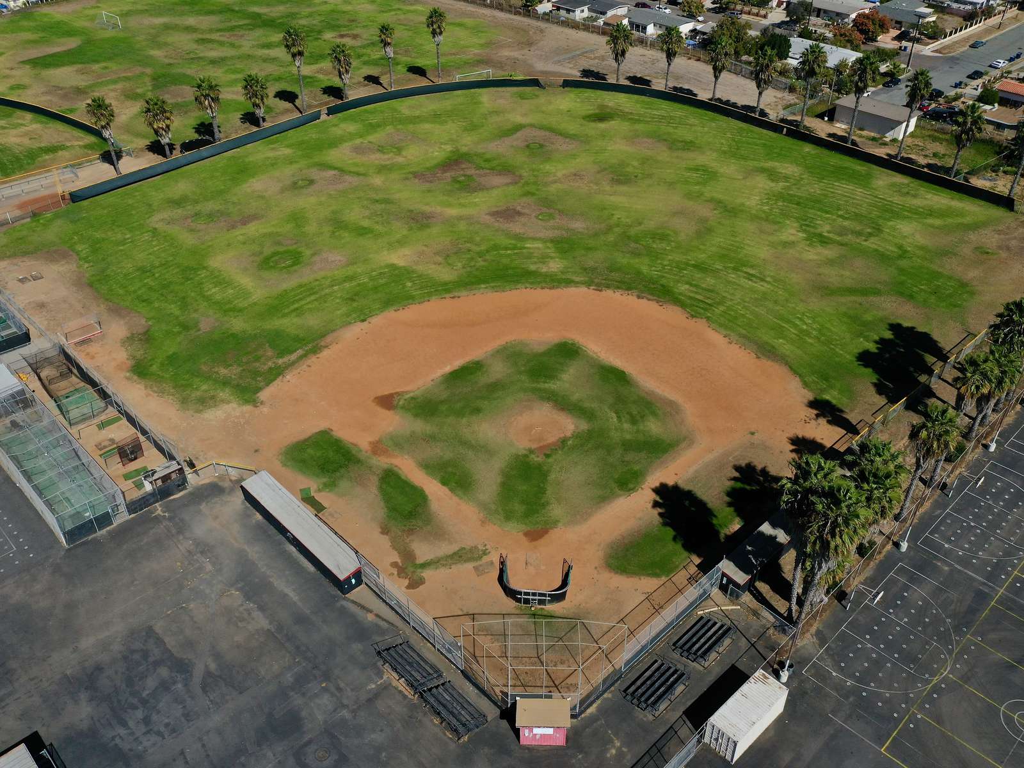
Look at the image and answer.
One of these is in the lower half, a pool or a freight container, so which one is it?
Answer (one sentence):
Visible in the lower half is a freight container.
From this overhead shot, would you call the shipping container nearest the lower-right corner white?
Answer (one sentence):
Yes, white is the color of the shipping container nearest the lower-right corner.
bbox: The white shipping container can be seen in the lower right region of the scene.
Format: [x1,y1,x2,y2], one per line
[703,667,790,765]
